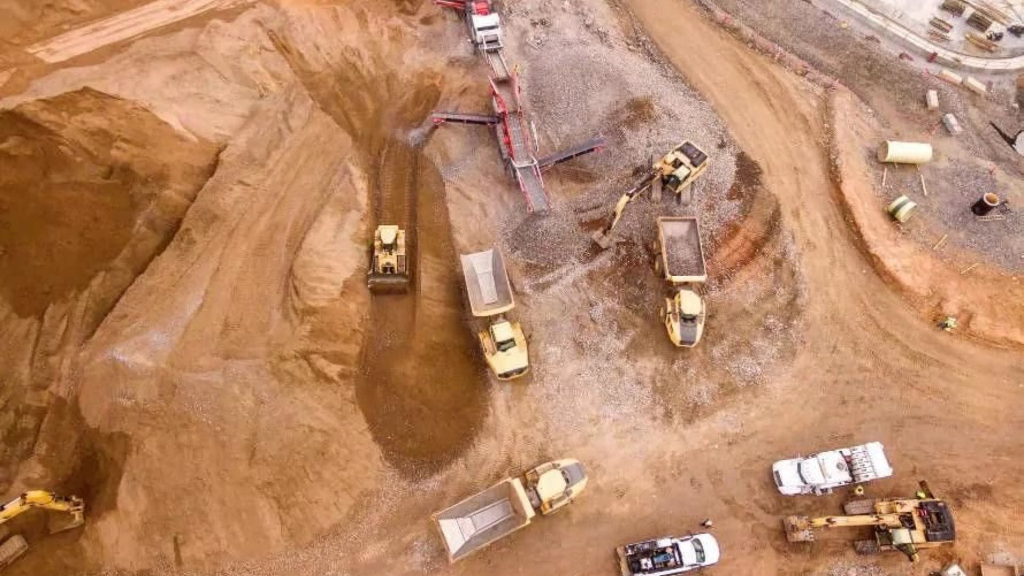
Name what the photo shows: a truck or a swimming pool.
truck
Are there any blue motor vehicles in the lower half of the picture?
No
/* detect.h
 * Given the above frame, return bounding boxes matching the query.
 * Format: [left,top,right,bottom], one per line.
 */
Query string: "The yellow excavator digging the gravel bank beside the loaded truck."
[611,144,707,241]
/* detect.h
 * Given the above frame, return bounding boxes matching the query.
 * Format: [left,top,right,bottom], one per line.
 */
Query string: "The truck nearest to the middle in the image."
[458,247,530,382]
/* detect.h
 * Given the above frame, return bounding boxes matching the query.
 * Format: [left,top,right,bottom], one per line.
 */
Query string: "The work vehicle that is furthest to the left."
[0,483,90,552]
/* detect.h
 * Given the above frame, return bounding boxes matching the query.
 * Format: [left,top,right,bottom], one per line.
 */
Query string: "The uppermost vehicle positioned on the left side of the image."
[366,222,412,295]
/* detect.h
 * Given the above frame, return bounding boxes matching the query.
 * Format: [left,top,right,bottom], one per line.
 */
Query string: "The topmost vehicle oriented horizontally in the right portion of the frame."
[766,443,896,495]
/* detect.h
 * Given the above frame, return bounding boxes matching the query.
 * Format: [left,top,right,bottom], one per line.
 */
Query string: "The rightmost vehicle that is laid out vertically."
[652,217,714,349]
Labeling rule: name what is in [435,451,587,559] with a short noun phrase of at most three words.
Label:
truck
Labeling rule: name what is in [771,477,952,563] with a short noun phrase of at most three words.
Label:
work vehicle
